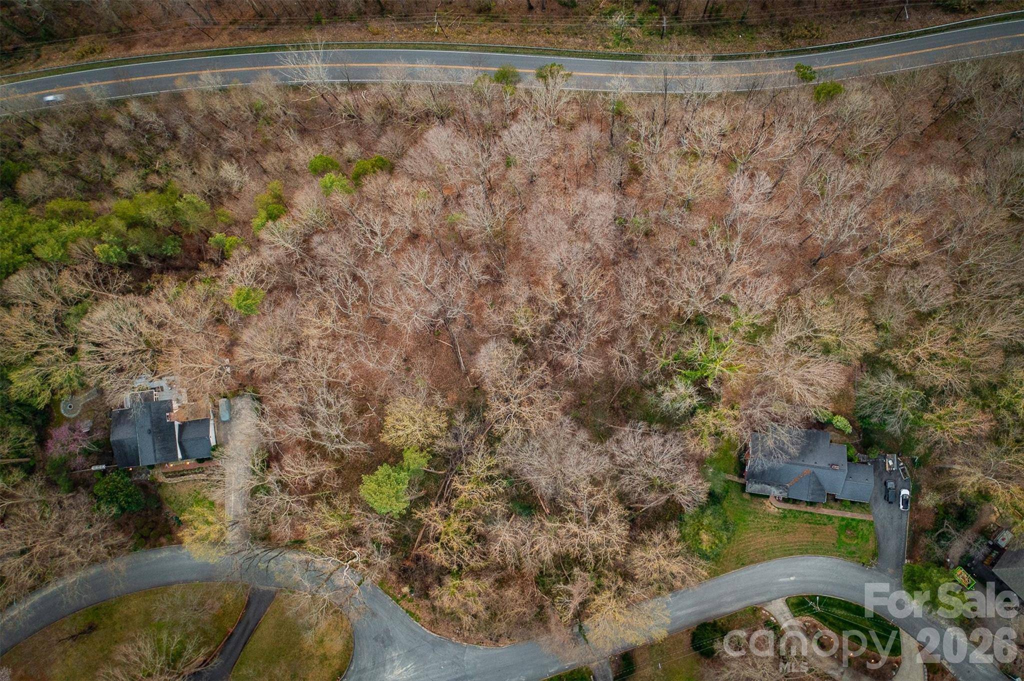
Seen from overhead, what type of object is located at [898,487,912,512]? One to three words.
car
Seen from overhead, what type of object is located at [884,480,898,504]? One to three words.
car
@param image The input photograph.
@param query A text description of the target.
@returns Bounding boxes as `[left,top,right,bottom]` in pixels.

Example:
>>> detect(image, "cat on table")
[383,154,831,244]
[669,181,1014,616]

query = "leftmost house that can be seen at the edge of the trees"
[110,389,217,470]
